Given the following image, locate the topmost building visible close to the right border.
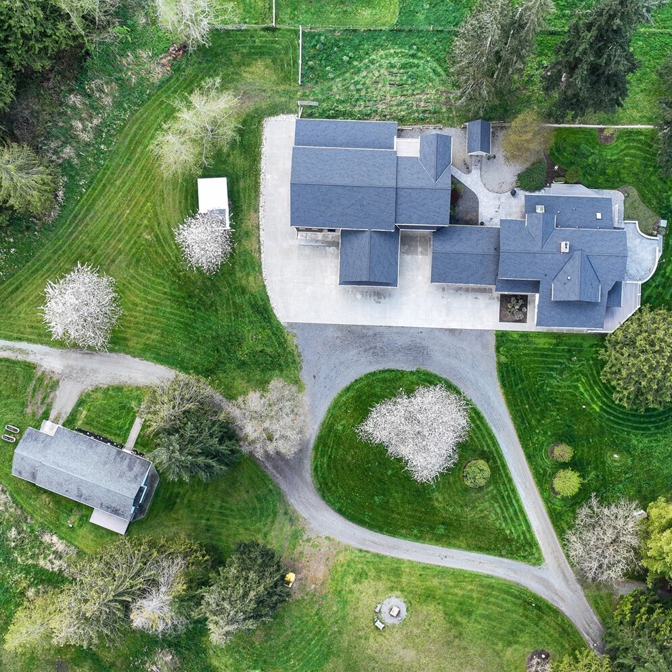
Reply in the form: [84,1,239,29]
[430,185,661,332]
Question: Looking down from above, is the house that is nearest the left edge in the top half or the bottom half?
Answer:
bottom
